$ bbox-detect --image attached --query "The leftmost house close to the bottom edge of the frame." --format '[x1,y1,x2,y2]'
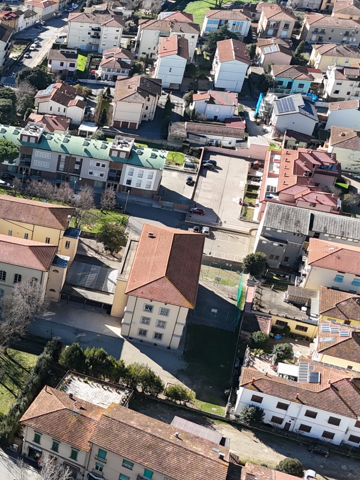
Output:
[22,369,120,475]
